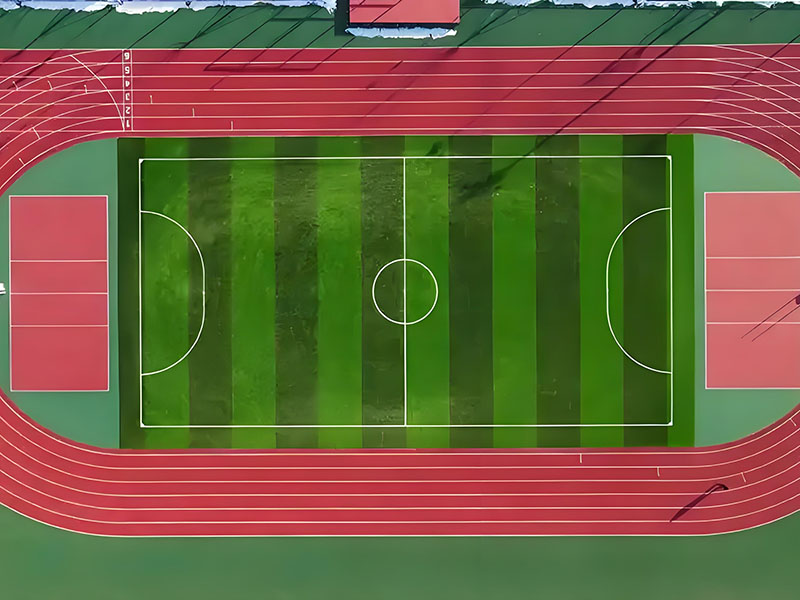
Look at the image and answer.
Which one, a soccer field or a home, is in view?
soccer field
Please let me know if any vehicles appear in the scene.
No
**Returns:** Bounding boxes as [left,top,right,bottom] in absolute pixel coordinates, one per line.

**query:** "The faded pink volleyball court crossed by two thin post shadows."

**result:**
[705,191,800,388]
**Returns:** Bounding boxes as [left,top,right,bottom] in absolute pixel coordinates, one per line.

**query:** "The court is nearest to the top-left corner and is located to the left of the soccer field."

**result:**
[9,195,109,391]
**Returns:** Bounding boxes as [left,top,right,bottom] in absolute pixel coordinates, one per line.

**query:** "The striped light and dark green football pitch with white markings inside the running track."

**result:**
[118,134,695,449]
